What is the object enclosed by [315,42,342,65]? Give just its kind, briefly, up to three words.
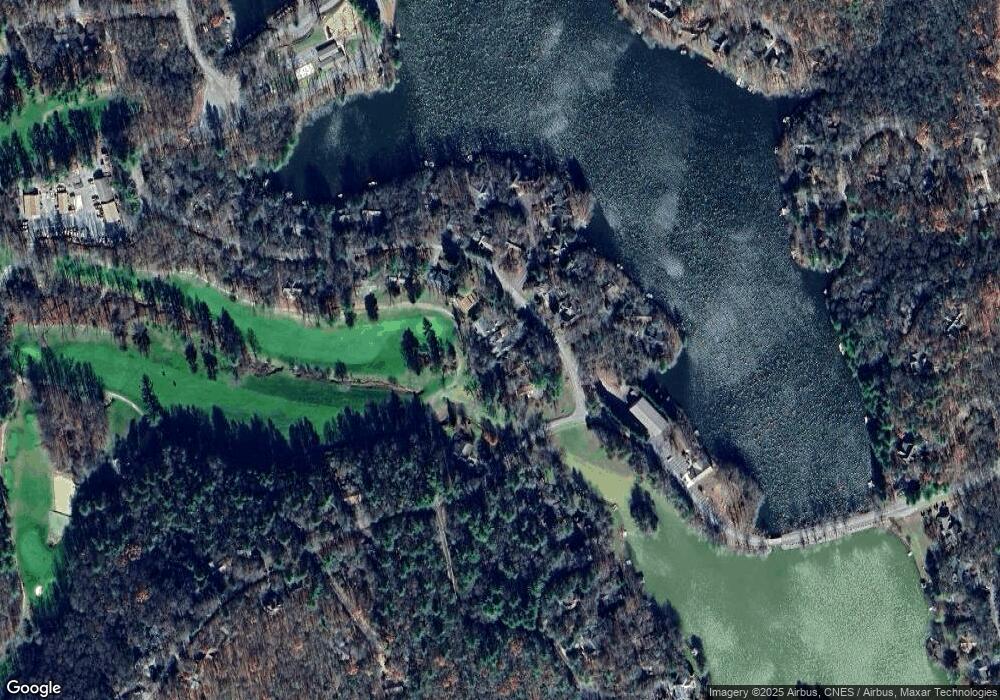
building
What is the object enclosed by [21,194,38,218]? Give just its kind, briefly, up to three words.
shed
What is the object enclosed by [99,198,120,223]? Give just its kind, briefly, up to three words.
shed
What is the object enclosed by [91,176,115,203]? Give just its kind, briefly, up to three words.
building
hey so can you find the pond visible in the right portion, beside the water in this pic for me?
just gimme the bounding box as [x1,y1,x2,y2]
[562,446,957,700]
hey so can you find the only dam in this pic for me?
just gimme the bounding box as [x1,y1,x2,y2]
[739,507,893,556]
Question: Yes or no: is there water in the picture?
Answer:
Yes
